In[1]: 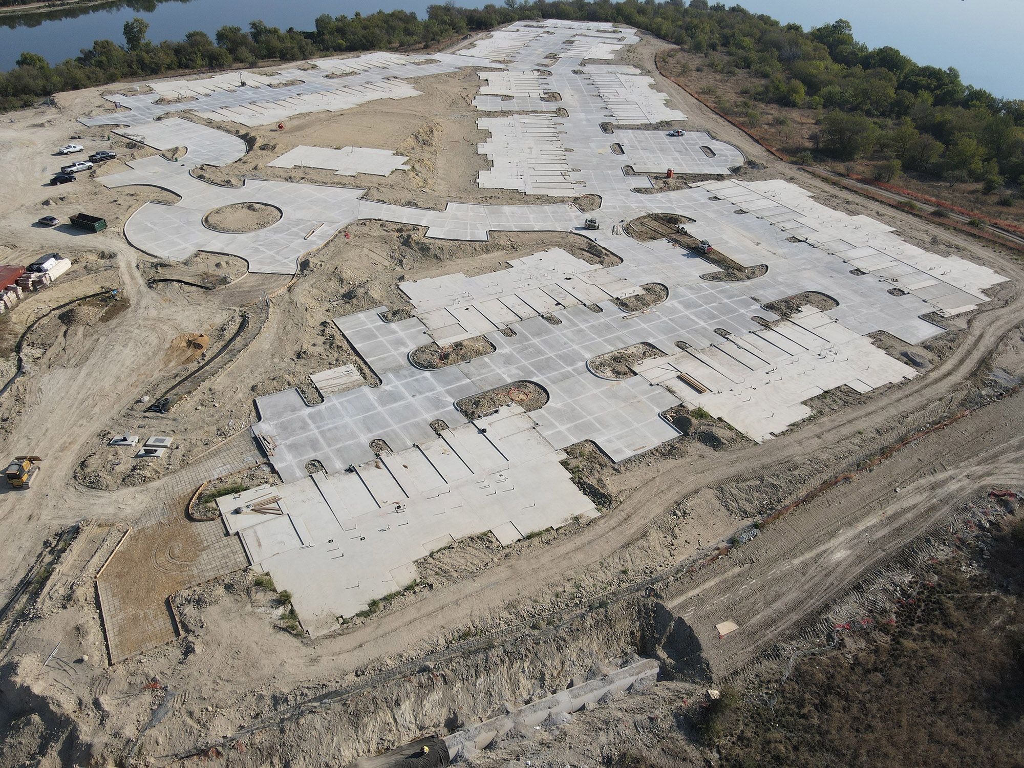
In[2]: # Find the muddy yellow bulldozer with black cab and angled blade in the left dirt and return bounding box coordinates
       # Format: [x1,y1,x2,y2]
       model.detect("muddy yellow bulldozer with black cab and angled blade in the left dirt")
[0,454,51,496]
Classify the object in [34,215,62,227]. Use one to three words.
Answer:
vehicle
